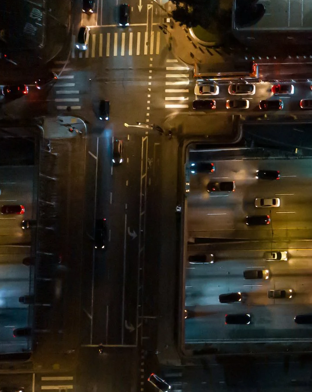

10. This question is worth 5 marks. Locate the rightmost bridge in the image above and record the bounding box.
[160,125,246,355]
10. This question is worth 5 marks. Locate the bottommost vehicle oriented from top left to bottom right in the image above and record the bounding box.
[147,372,172,392]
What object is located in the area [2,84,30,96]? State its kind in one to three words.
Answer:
vehicle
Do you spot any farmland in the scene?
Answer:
No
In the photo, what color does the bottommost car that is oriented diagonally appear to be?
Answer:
black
